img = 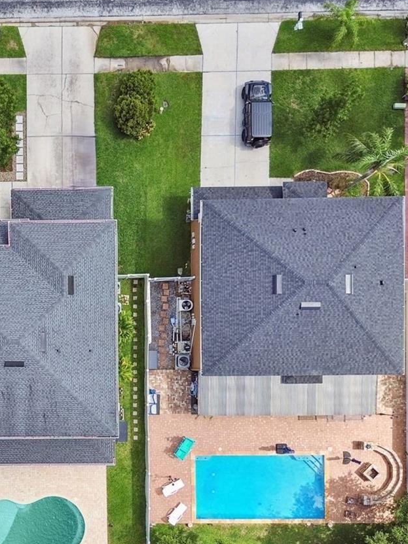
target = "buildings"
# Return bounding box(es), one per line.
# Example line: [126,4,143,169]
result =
[189,180,407,384]
[0,185,120,467]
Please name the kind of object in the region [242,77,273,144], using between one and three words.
car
